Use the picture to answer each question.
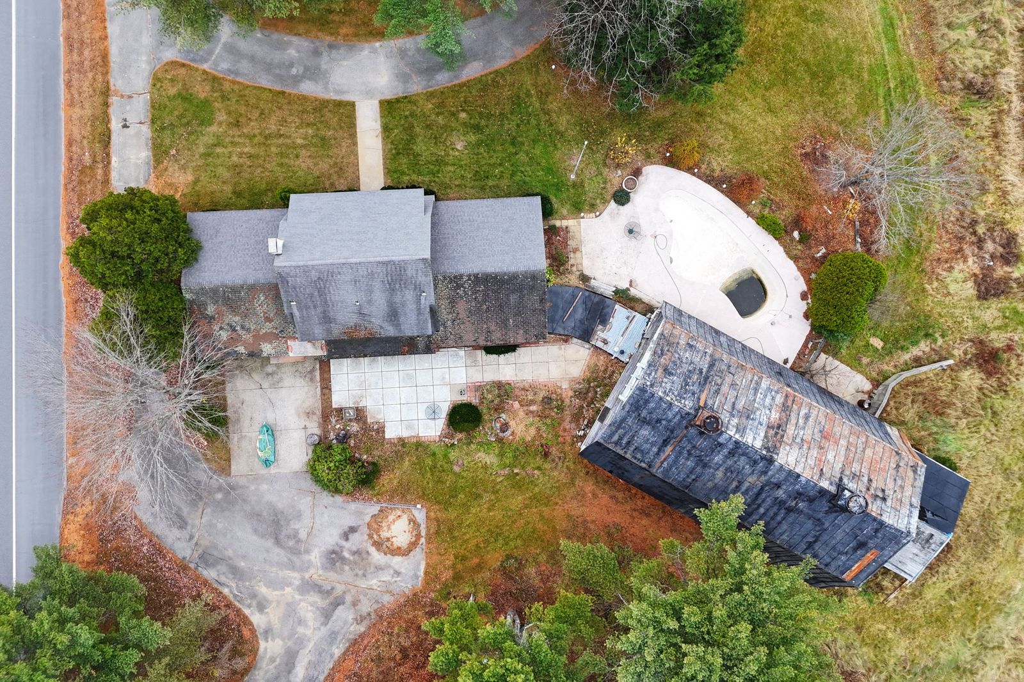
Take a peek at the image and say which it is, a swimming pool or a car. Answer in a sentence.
This aerial view contains a swimming pool.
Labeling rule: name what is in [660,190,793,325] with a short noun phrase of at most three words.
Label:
swimming pool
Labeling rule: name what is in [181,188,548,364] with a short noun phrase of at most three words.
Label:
house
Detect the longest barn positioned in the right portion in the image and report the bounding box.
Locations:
[579,302,971,585]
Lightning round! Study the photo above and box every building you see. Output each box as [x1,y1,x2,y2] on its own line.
[579,302,971,585]
[181,188,548,364]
